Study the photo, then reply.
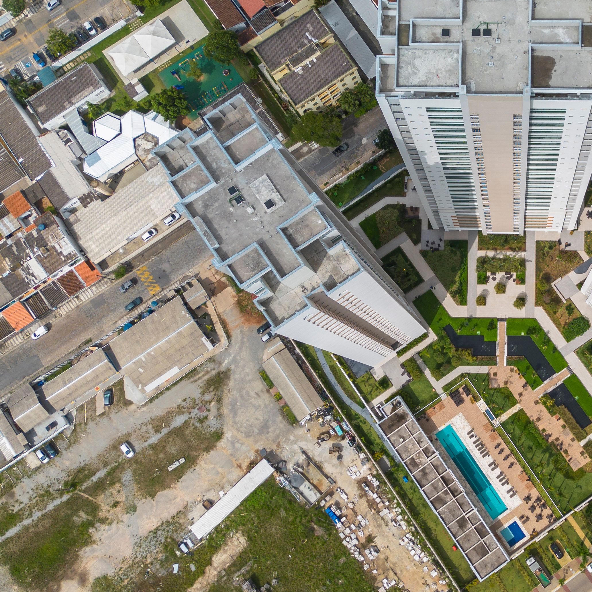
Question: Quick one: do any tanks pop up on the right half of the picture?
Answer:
No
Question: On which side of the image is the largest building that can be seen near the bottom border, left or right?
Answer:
right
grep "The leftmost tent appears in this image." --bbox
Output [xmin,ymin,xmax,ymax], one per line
[109,36,153,79]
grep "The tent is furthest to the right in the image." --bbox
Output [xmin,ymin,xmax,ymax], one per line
[133,18,179,64]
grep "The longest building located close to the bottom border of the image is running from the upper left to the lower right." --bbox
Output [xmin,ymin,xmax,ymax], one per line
[376,395,510,581]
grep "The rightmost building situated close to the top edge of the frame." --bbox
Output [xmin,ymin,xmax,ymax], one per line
[375,0,592,235]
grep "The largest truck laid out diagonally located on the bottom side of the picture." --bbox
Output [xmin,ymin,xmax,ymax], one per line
[526,555,552,589]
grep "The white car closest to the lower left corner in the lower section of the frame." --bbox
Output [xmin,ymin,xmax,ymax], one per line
[36,449,49,464]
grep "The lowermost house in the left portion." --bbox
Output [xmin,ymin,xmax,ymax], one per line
[184,458,278,539]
